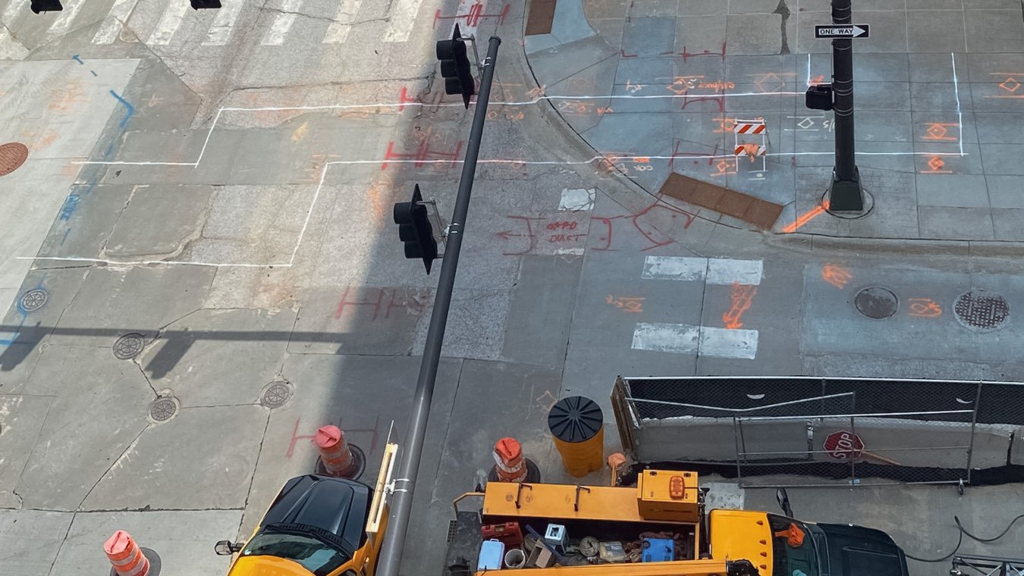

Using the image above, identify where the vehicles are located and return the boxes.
[214,468,395,576]
[435,471,921,576]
